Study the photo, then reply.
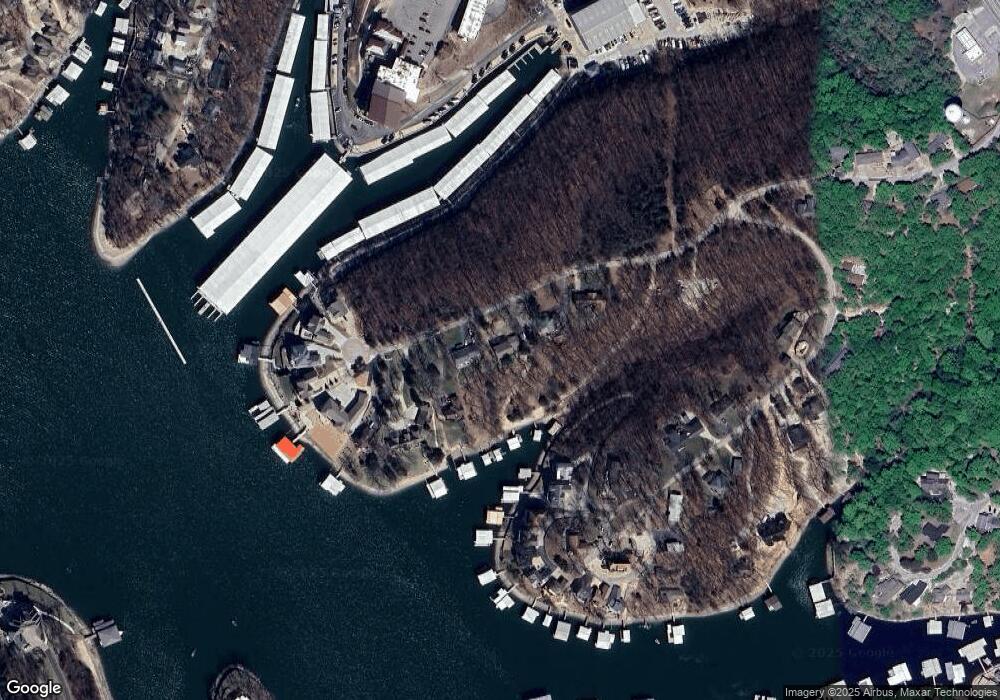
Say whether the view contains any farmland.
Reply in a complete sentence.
No, there's no farmland in this view.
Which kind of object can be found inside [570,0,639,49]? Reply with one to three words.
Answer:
building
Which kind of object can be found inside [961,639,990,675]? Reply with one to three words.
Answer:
pier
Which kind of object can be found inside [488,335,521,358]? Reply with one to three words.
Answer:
house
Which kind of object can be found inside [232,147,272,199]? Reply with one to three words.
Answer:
pier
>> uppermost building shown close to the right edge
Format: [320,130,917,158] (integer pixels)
[958,26,984,59]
